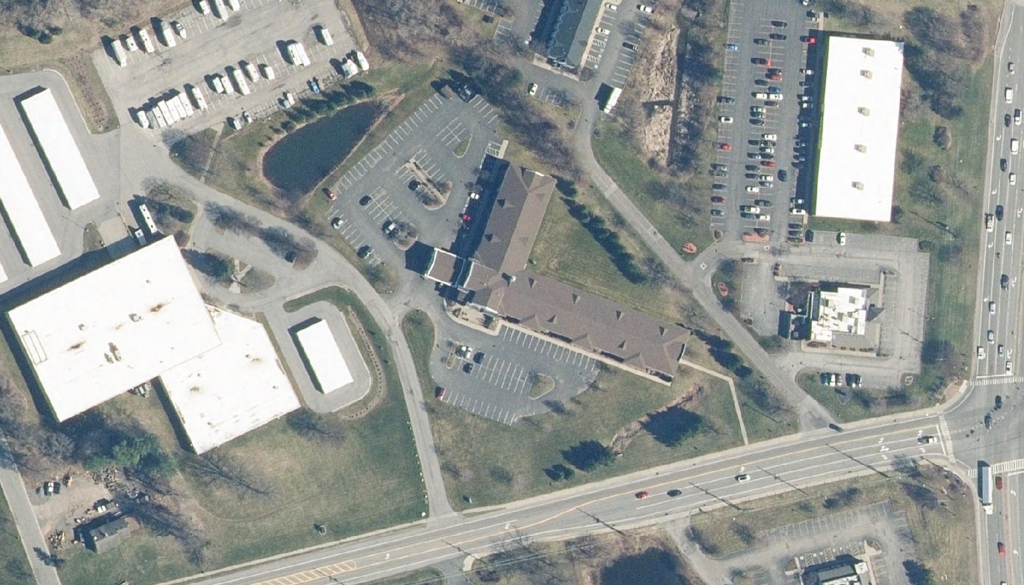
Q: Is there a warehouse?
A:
Yes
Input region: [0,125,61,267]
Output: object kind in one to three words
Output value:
building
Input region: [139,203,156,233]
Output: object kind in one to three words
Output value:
vehicle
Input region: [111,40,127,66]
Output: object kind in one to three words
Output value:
camper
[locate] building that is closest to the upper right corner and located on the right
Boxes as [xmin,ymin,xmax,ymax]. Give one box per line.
[815,36,904,222]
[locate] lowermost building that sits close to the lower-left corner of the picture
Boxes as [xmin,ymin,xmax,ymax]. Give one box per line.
[89,518,135,554]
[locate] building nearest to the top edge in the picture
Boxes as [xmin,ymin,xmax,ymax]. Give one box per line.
[544,0,603,73]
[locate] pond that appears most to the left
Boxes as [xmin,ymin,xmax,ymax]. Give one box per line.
[263,99,387,195]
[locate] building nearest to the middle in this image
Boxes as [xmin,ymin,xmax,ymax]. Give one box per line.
[425,163,691,377]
